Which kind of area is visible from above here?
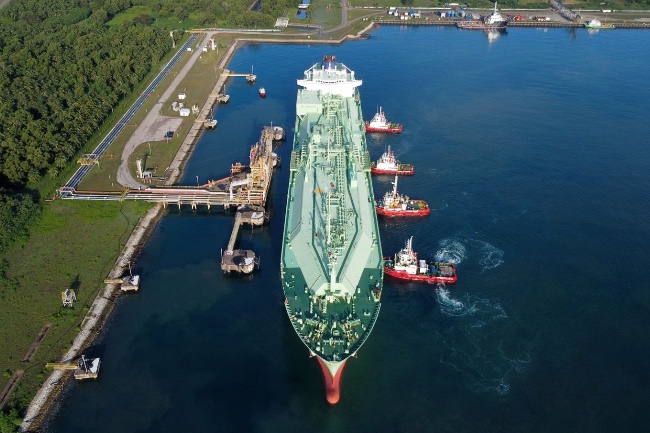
port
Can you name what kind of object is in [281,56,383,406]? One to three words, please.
ship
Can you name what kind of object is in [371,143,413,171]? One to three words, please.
boat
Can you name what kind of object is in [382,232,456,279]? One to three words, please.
boat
